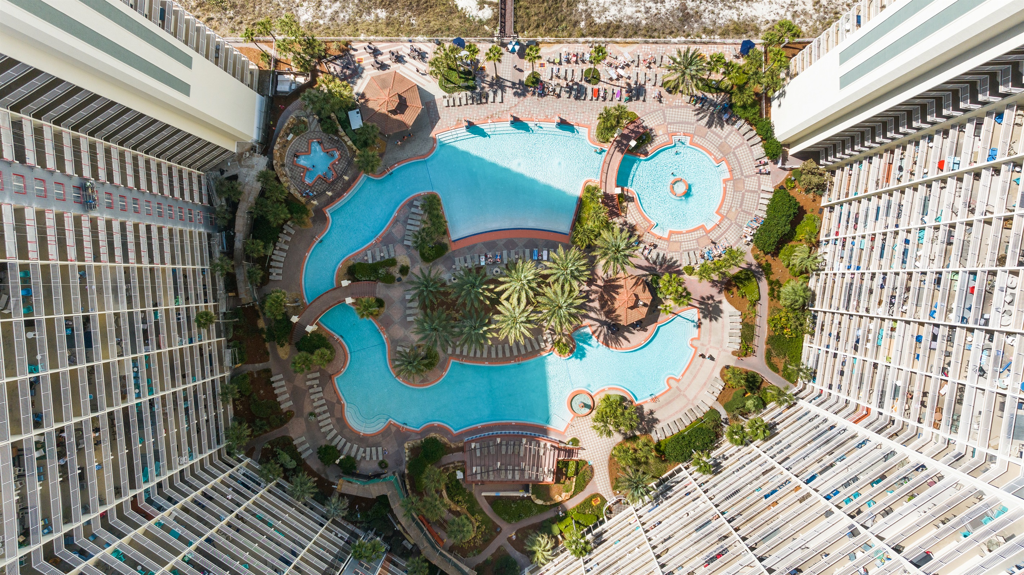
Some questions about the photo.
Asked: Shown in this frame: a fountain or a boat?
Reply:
fountain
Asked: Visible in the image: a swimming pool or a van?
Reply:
swimming pool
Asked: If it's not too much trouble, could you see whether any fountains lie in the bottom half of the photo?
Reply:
Yes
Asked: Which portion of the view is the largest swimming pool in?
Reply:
center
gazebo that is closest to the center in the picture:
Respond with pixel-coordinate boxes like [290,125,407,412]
[598,273,652,325]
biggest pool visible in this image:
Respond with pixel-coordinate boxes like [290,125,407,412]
[303,121,730,433]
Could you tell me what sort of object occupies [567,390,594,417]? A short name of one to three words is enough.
fountain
